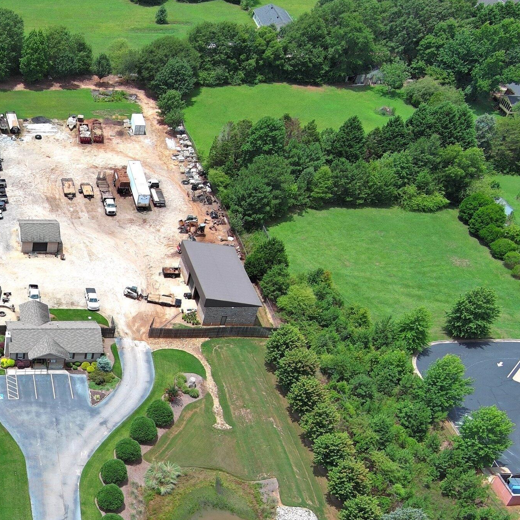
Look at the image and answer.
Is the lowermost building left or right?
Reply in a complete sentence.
You can find the lowermost building on the left side of the picture.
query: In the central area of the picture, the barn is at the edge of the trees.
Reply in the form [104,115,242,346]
[181,240,262,325]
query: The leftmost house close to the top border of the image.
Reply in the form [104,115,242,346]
[241,3,302,34]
